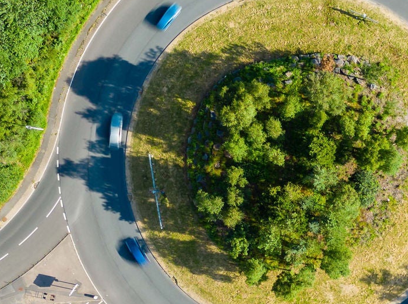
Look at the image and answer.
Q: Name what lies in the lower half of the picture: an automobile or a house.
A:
automobile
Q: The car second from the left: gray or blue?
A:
blue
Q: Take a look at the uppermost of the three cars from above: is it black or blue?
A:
blue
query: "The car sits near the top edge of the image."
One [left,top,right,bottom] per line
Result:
[157,3,181,30]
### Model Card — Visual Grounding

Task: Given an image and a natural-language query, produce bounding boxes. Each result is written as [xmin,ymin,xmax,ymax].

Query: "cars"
[157,3,181,30]
[126,238,149,264]
[108,115,122,146]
